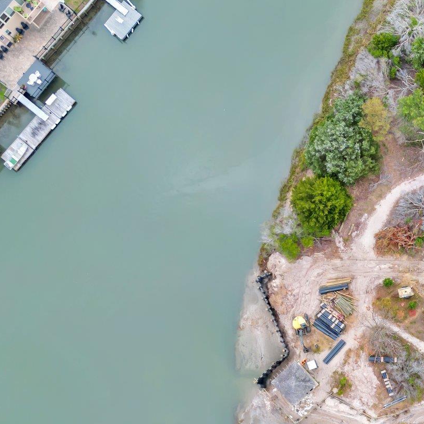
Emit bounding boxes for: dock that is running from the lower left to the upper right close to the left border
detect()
[1,89,76,171]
